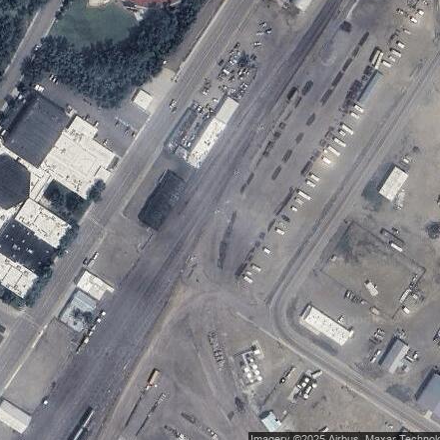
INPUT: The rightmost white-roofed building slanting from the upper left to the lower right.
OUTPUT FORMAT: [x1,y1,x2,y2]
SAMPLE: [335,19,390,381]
[303,305,355,347]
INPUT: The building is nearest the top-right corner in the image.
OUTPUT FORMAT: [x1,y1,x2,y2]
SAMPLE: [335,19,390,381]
[359,71,385,105]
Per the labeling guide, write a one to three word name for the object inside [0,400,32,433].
building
